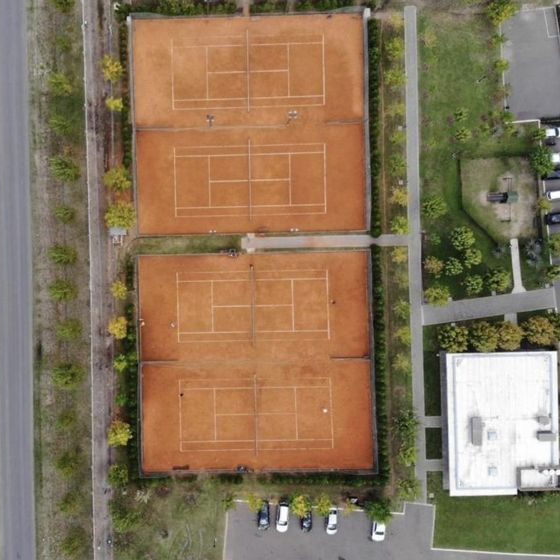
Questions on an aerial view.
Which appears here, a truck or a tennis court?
tennis court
